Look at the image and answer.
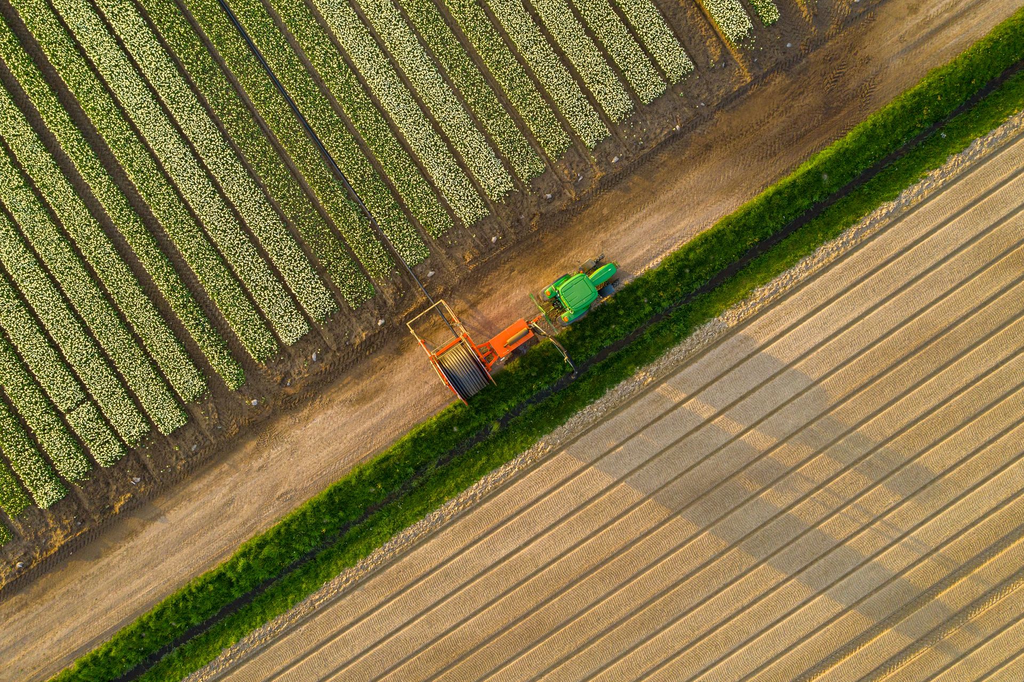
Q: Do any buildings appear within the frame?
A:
No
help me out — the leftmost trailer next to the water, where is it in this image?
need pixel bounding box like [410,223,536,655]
[406,299,546,406]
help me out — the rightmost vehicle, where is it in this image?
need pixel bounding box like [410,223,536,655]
[531,255,622,335]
